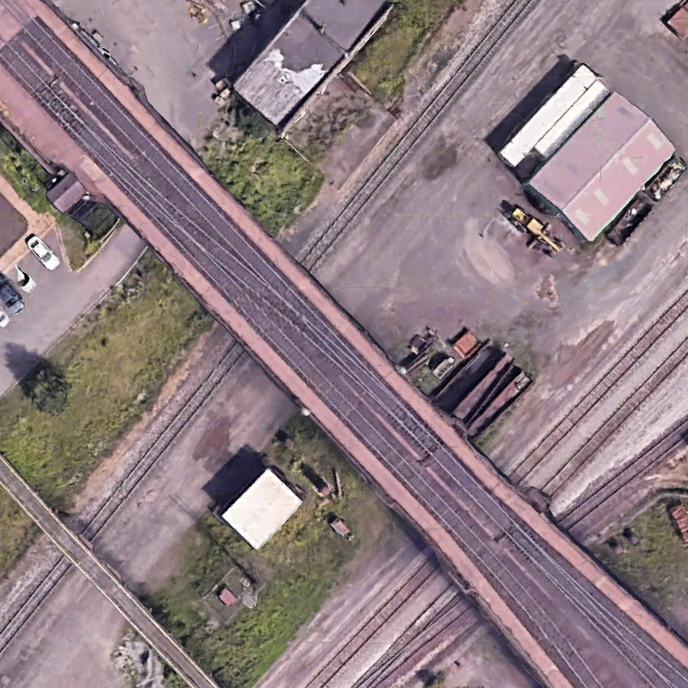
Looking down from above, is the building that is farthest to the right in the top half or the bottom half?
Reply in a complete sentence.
It is in the top half that the building that is farthest to the right appears.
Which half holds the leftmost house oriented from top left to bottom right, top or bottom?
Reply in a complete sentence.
The leftmost house oriented from top left to bottom right is in the top half of the image.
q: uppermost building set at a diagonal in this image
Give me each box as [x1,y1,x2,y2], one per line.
[234,0,394,141]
